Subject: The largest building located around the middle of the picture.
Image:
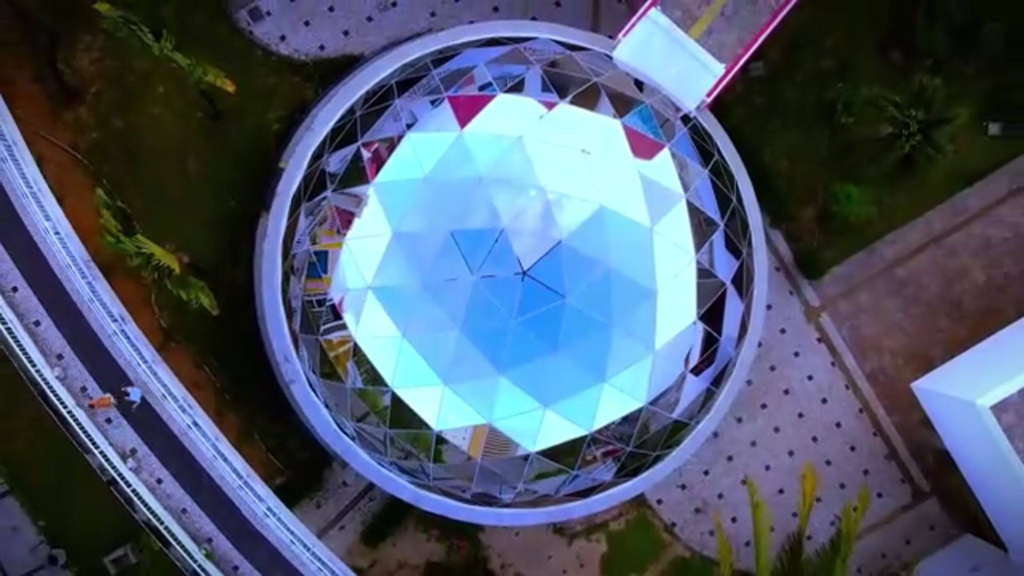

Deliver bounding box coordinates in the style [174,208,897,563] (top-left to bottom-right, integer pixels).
[255,19,769,524]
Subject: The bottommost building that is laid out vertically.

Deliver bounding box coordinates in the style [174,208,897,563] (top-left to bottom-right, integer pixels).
[911,318,1024,576]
